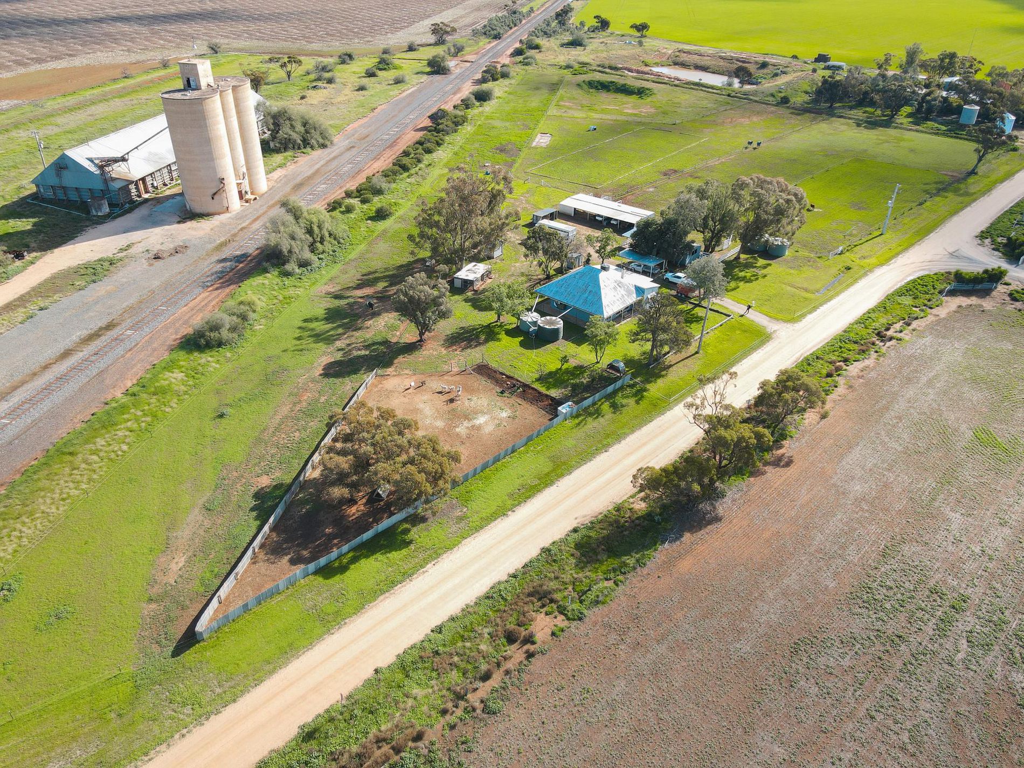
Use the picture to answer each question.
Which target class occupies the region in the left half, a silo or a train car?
silo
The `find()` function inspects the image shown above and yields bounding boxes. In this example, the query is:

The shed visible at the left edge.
[31,119,178,208]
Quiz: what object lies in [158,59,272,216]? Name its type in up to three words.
silo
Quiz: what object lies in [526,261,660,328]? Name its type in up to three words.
house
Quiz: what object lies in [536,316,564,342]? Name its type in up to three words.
water tank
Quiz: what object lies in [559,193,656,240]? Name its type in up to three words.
shed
